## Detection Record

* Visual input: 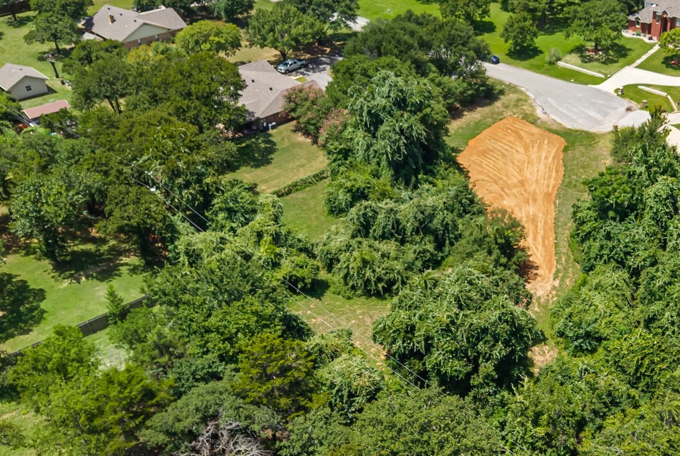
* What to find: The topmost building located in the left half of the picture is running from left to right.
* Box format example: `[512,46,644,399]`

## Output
[74,2,186,54]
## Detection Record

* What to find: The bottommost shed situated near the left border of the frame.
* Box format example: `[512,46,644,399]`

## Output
[21,100,74,128]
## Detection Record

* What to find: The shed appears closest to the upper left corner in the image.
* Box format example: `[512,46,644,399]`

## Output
[0,63,51,103]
